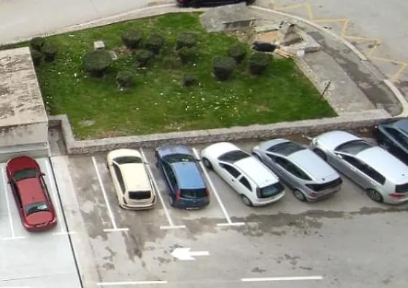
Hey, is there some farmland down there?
No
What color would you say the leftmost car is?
red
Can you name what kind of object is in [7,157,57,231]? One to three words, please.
car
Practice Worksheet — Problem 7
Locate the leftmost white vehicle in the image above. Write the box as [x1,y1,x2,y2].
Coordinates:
[106,149,156,211]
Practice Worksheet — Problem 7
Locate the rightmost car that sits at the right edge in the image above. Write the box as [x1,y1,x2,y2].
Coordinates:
[370,121,408,175]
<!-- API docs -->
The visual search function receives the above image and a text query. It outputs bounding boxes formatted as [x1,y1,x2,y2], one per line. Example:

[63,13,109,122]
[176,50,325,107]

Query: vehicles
[155,146,210,209]
[370,121,408,175]
[7,157,57,231]
[207,143,286,208]
[316,133,408,206]
[106,149,156,211]
[255,137,350,207]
